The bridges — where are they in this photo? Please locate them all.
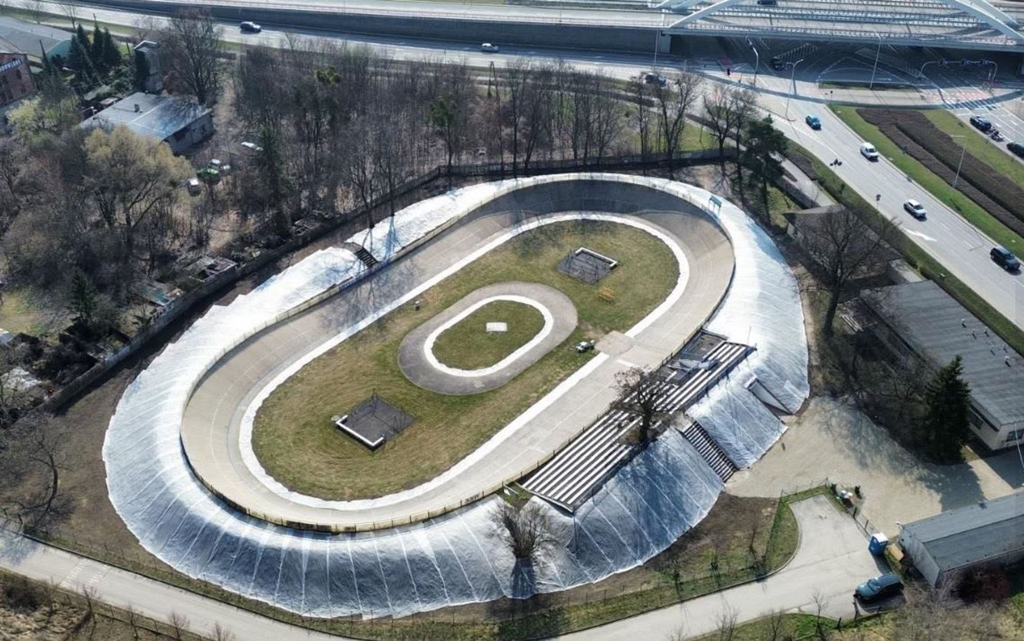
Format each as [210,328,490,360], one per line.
[657,0,1024,73]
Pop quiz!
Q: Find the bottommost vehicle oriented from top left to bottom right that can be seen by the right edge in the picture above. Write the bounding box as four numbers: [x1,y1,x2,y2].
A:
[990,241,1022,265]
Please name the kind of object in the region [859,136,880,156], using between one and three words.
vehicle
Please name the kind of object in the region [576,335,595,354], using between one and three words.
work vehicle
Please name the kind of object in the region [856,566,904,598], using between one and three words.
car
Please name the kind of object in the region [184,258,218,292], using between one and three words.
shed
